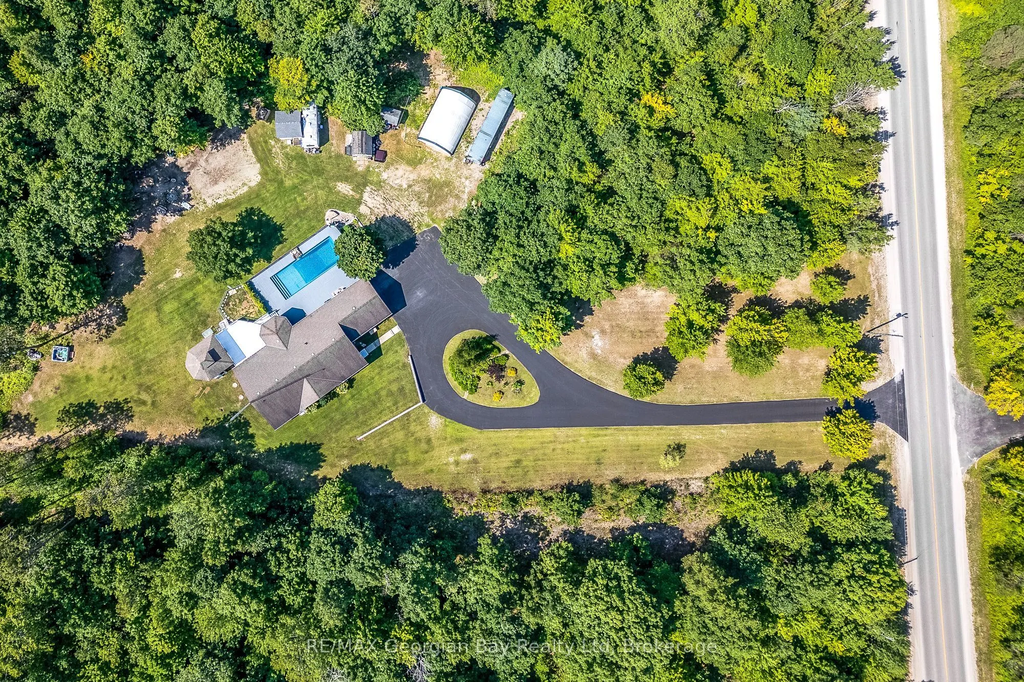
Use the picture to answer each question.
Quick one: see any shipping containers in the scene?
Yes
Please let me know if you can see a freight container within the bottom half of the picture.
No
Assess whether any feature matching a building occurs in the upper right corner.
No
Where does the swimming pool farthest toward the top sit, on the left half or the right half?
left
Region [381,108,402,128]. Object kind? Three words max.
shed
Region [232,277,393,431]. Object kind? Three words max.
house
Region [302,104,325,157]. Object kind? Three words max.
vehicle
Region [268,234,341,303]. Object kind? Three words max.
swimming pool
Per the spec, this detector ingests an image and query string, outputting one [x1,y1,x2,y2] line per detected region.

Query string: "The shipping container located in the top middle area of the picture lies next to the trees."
[467,89,514,165]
